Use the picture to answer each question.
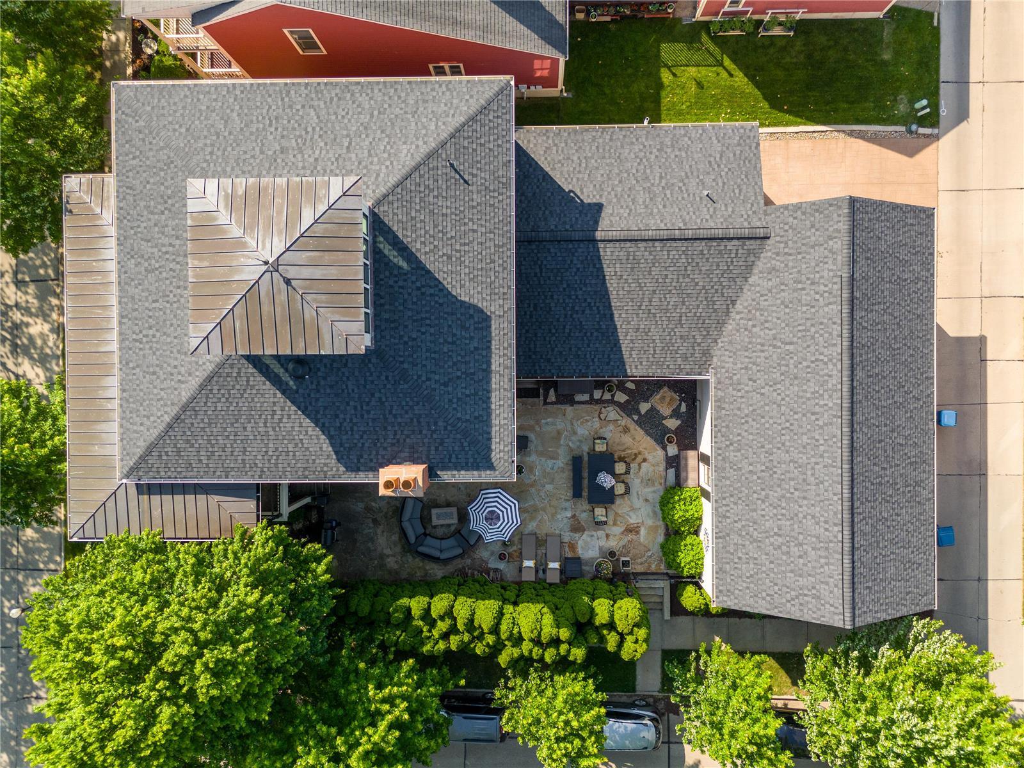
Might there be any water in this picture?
No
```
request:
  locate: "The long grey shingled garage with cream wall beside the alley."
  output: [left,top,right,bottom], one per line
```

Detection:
[698,195,939,629]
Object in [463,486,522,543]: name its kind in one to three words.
umbrella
